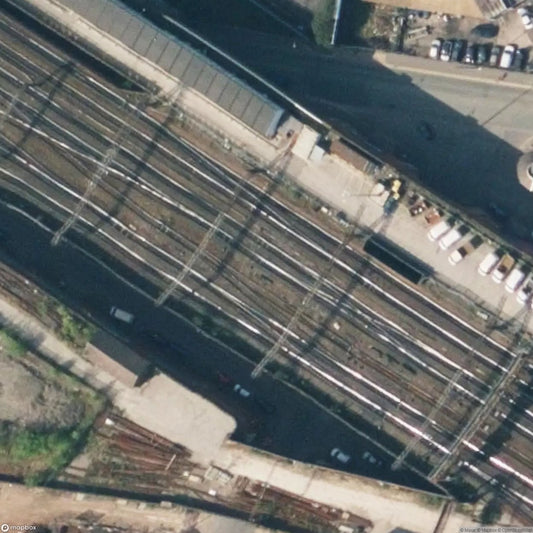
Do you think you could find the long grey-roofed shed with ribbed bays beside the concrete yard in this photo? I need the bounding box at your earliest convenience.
[61,0,287,140]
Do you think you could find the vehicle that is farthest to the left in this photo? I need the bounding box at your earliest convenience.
[109,308,134,323]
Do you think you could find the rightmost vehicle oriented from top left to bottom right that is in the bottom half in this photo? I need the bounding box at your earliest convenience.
[362,452,380,466]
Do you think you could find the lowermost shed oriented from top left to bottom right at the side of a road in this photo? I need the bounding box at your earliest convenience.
[84,326,152,387]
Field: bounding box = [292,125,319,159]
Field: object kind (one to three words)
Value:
building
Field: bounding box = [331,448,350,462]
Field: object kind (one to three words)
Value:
car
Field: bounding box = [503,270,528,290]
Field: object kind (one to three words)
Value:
vehicle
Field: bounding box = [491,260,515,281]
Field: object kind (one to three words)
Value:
vehicle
